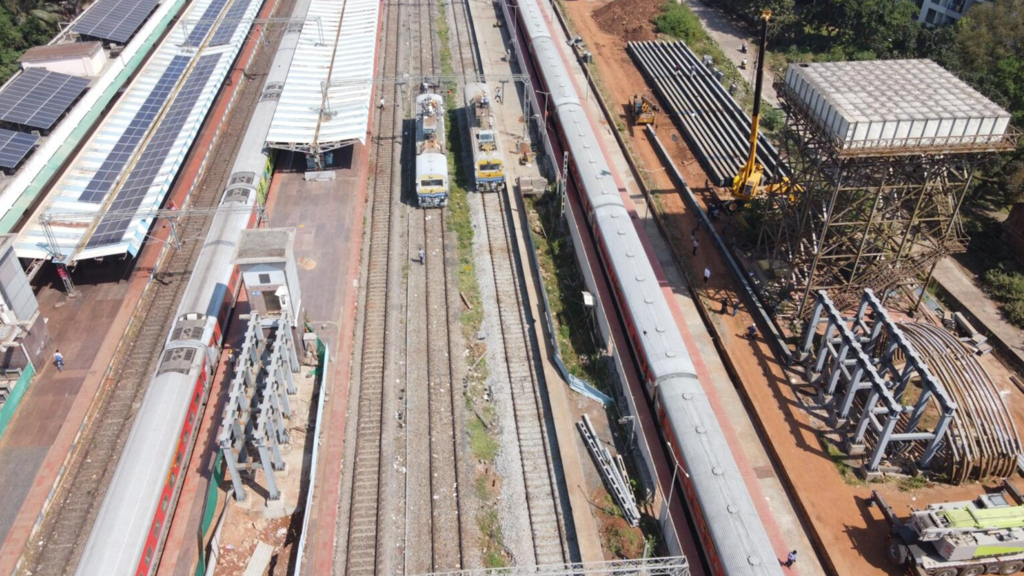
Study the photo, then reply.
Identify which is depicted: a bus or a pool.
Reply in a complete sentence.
Visible in the photo is a bus.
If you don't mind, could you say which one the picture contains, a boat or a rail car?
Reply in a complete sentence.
There is a rail car in the scene.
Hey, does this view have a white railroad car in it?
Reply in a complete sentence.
Yes, the photo shows a white railroad car.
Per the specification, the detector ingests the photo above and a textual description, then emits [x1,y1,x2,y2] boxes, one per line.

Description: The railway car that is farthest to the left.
[415,101,447,209]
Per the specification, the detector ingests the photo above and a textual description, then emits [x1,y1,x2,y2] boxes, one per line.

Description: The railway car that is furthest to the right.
[465,90,504,193]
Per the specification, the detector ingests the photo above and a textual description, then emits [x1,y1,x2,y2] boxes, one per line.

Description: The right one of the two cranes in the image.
[866,477,1024,576]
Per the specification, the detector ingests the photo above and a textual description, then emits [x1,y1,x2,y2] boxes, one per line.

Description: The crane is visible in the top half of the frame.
[701,10,822,225]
